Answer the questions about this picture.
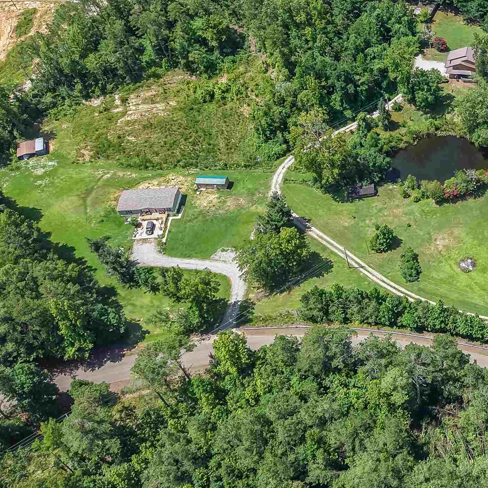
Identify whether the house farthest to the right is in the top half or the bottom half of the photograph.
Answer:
top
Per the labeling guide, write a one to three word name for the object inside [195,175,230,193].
shed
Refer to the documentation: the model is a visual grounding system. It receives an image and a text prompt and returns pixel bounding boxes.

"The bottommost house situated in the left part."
[116,186,182,234]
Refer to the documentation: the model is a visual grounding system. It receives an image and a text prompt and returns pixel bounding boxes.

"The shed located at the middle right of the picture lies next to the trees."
[349,184,376,200]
